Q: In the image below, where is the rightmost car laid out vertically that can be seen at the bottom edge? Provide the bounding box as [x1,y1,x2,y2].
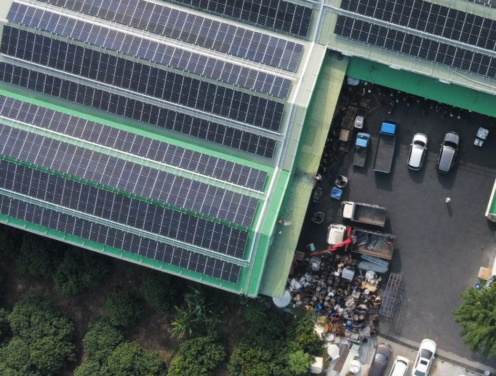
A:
[413,337,435,376]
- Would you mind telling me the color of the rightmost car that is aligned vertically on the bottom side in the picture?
white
